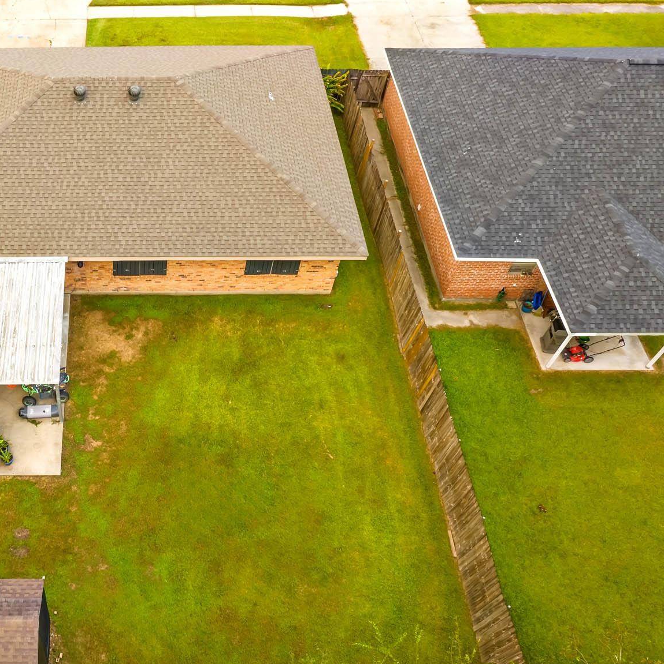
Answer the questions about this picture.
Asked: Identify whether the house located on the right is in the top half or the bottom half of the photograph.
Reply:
top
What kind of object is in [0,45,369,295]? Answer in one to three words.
house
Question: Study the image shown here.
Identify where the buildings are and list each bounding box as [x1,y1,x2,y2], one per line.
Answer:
[0,45,369,295]
[0,577,53,664]
[383,48,664,369]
